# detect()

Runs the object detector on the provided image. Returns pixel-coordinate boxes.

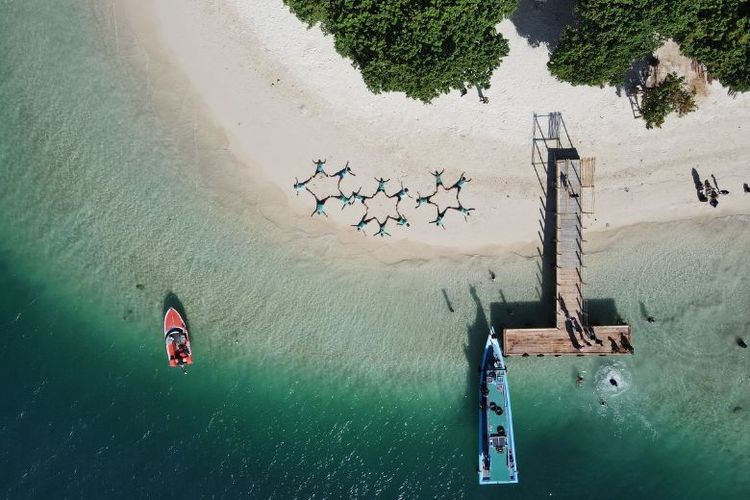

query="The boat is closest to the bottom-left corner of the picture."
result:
[164,307,193,373]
